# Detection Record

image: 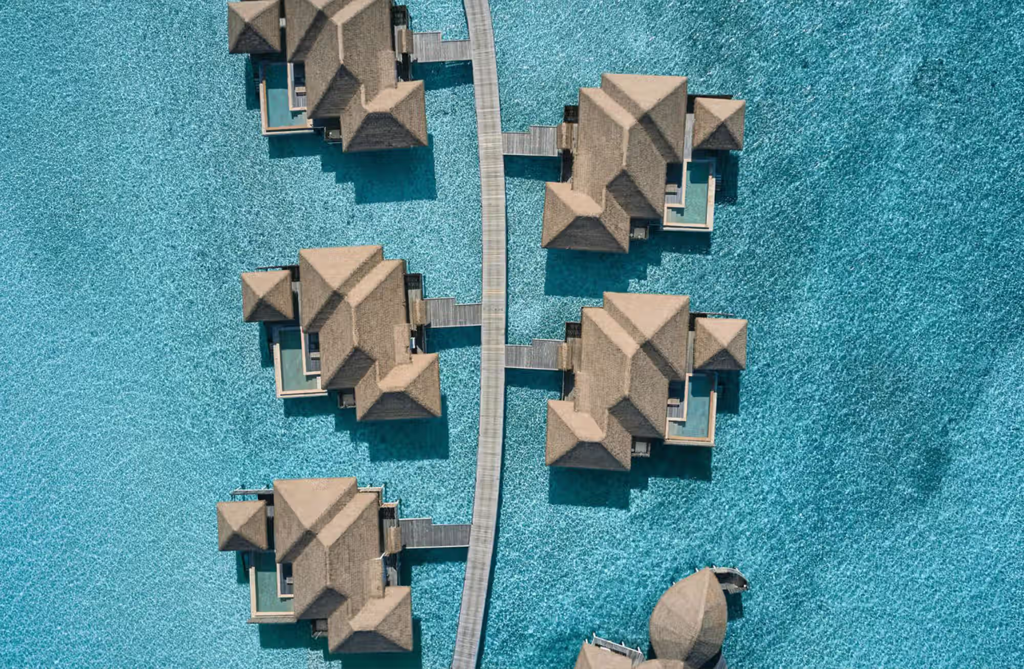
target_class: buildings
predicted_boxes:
[546,293,734,470]
[575,632,643,669]
[247,0,430,152]
[649,564,750,669]
[229,477,413,653]
[254,244,443,422]
[543,73,732,252]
